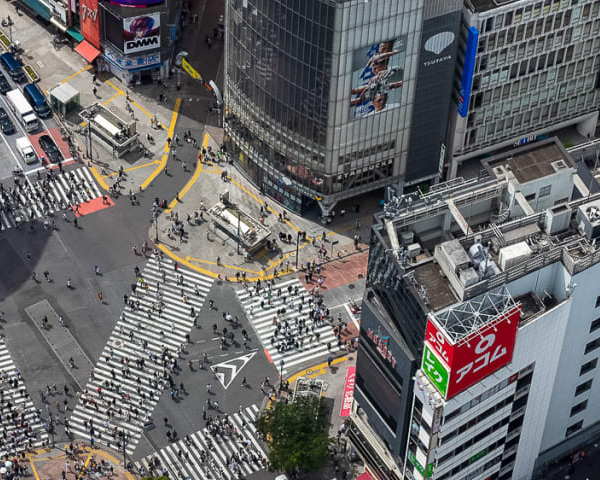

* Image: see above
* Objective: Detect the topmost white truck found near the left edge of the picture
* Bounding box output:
[9,88,40,130]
